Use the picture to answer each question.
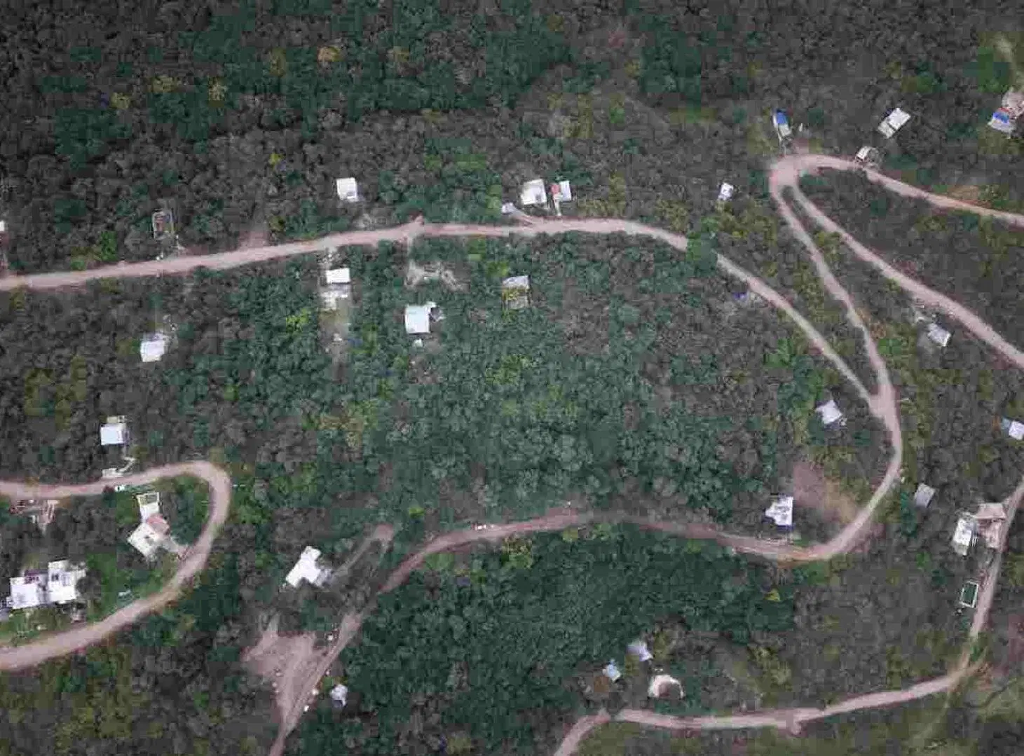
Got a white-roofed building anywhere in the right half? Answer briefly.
Yes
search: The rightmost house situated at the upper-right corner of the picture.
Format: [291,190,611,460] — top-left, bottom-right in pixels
[985,89,1024,135]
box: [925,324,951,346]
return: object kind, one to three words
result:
house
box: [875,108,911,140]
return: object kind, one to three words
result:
house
